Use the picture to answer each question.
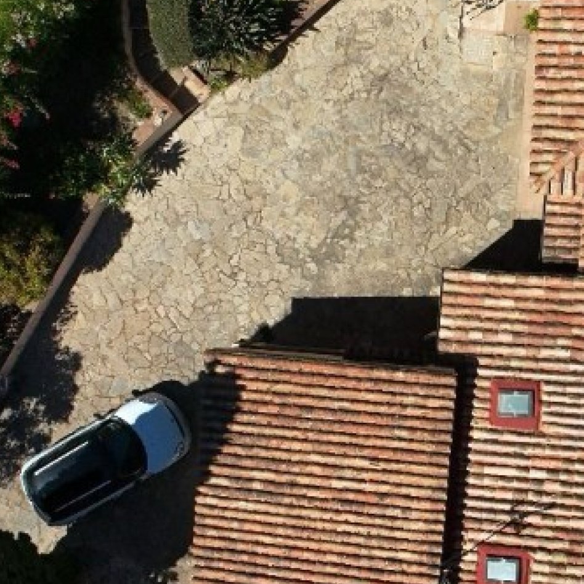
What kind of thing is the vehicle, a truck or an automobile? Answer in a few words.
automobile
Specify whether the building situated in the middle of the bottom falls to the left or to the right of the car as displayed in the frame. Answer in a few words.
right of it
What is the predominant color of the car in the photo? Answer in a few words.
black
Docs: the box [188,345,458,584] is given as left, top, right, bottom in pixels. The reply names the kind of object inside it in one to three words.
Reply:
building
